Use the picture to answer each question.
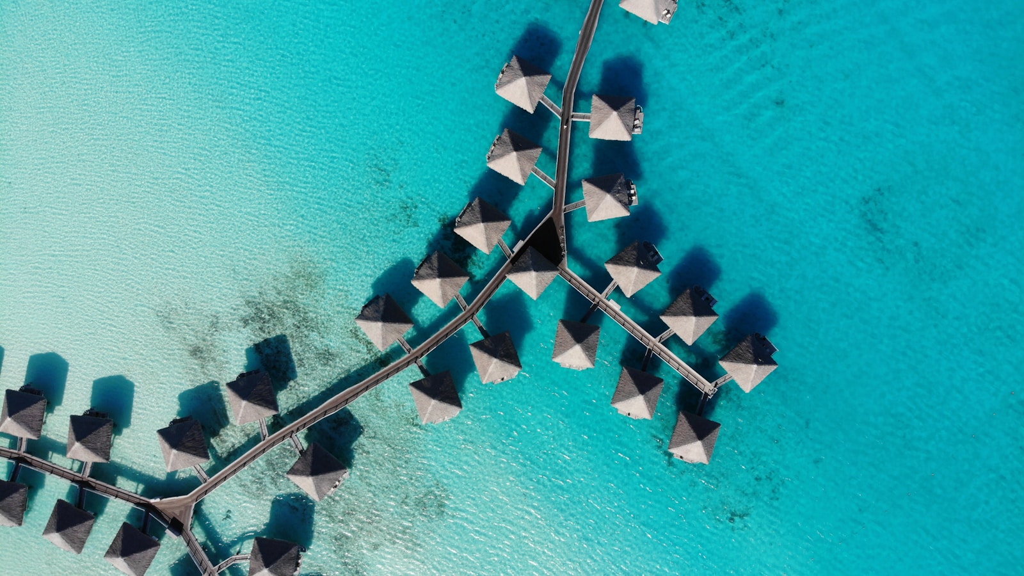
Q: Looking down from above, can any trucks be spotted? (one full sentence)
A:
No, there appears to be no truck in this shot.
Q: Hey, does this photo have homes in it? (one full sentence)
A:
Yes, you can see a home in this photo.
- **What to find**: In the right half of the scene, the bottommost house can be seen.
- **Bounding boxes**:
[668,411,721,464]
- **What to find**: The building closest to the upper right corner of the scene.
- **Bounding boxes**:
[619,0,680,34]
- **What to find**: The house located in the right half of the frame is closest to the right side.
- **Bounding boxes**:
[718,332,778,393]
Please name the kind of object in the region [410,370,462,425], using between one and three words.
house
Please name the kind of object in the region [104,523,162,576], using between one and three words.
house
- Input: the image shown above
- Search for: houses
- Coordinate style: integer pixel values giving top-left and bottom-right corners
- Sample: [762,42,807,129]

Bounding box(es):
[66,406,117,462]
[605,241,664,297]
[0,385,54,439]
[469,331,522,387]
[41,499,99,553]
[486,128,543,184]
[589,94,644,142]
[495,55,553,113]
[248,537,307,576]
[411,251,469,308]
[157,411,210,472]
[611,365,665,419]
[582,173,639,222]
[287,442,349,502]
[668,411,721,464]
[226,365,279,425]
[660,286,719,346]
[552,319,601,371]
[454,197,512,254]
[619,0,680,34]
[0,479,35,525]
[410,370,462,425]
[718,332,778,393]
[104,523,162,576]
[355,293,413,351]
